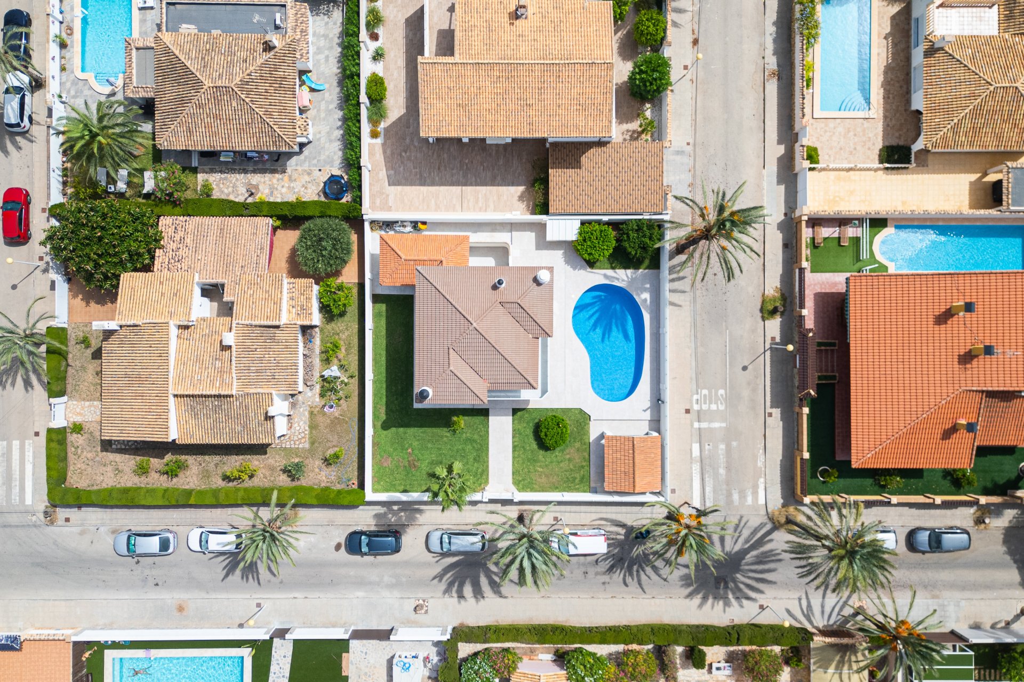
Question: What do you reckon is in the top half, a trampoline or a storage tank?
trampoline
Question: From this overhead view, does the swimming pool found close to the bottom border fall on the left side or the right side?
left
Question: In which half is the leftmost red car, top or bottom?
top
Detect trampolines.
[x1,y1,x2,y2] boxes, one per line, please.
[319,172,345,201]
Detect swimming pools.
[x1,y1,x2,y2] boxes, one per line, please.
[74,0,139,95]
[104,648,252,682]
[813,0,877,118]
[572,284,645,401]
[872,218,1024,272]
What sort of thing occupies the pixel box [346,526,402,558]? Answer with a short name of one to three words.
car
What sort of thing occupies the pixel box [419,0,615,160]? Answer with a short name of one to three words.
house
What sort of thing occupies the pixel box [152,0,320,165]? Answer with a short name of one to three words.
house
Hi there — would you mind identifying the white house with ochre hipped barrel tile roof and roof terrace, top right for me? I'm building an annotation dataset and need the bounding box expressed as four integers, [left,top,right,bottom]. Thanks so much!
[911,0,1024,151]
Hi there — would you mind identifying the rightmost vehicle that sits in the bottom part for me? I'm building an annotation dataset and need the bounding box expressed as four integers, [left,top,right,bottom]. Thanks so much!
[906,525,971,556]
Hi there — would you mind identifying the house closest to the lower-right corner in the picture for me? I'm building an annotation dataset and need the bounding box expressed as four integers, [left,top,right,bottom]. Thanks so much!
[841,269,1024,469]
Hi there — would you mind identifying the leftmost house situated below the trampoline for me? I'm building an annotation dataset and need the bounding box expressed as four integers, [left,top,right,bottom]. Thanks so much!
[93,216,331,444]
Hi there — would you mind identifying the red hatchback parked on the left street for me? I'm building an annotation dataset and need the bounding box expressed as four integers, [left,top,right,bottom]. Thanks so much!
[0,189,36,245]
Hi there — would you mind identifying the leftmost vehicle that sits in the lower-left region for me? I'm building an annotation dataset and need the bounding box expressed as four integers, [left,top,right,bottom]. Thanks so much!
[115,527,179,559]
